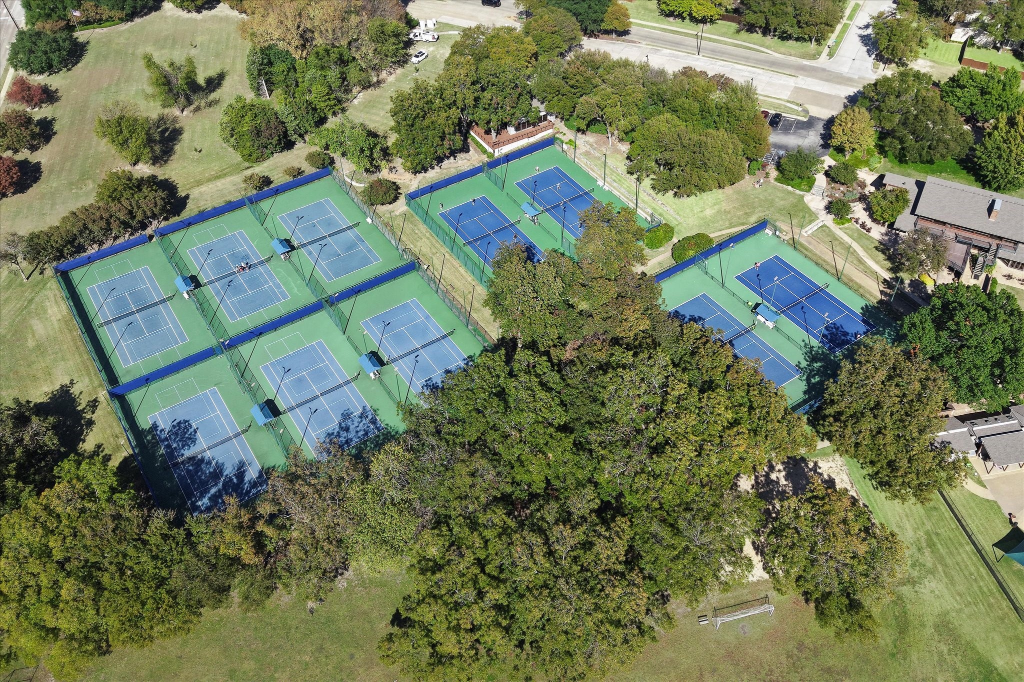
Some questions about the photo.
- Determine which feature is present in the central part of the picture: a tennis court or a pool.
tennis court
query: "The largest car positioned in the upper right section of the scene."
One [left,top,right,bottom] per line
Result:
[770,113,782,126]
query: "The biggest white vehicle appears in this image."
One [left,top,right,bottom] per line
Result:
[411,29,436,42]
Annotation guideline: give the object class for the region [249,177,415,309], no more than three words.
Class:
tennis court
